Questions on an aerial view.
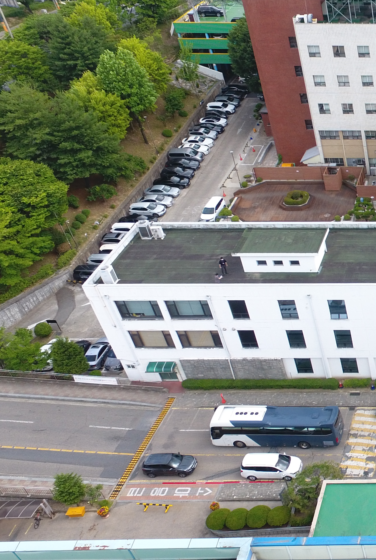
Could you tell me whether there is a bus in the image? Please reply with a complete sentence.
Yes, there's a bus here.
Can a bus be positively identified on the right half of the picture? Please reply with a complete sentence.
Yes, on the right half of the picture there is a bus.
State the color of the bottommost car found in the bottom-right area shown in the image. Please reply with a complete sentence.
The color of the bottommost car found in the bottom-right area is white.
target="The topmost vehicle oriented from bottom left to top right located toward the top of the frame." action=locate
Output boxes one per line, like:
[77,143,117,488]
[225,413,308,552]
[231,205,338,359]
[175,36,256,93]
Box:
[199,195,234,222]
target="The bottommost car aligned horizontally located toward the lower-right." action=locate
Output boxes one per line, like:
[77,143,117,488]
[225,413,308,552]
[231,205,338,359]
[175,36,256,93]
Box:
[243,450,306,478]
